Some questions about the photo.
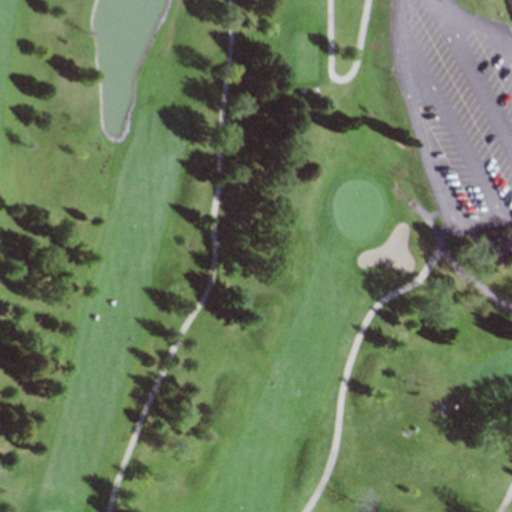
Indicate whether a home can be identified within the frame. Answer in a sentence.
No, the frame has no home in it.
